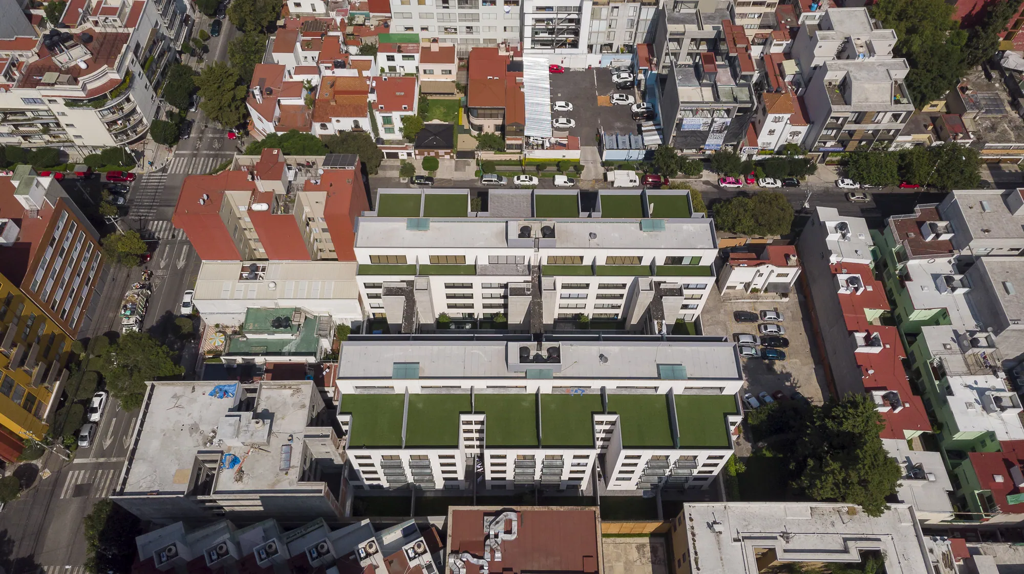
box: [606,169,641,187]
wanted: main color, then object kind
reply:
white vehicle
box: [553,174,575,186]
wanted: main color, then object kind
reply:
white vehicle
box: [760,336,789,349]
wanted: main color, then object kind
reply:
black vehicle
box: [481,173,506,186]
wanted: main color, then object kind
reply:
gray vehicle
